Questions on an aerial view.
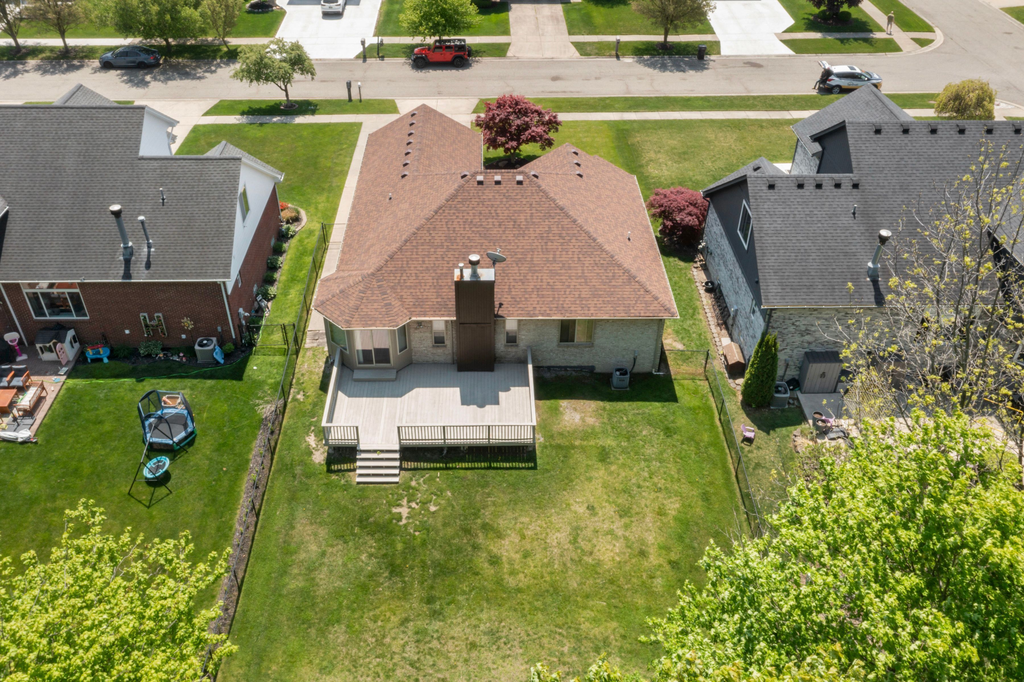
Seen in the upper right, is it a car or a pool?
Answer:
car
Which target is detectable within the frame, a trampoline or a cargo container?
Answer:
trampoline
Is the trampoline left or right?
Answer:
left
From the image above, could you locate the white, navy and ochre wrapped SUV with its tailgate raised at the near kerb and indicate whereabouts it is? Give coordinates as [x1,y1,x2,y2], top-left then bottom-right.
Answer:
[821,60,890,94]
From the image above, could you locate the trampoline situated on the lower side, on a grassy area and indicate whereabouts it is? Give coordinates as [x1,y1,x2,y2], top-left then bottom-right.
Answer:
[131,385,198,455]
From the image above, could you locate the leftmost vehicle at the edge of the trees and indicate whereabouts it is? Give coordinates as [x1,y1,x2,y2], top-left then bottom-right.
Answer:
[101,41,165,67]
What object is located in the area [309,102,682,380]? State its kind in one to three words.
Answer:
house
